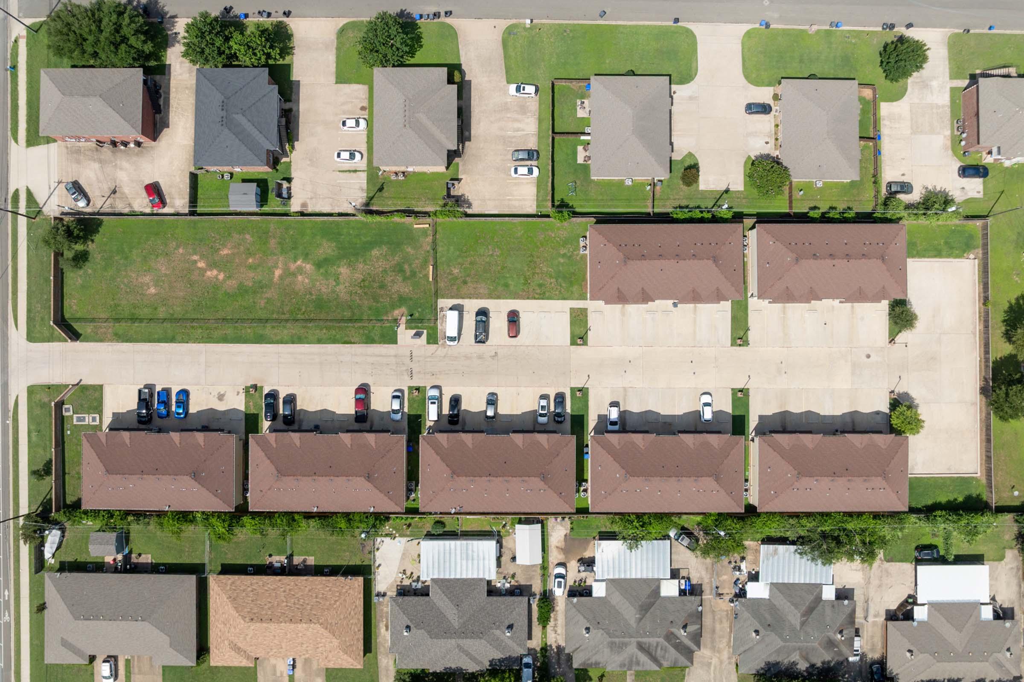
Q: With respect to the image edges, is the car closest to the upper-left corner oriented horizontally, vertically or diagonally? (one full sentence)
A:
In this picture, the car closest to the upper-left corner lies diagonally.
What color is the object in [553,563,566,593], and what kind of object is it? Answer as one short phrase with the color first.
white vehicle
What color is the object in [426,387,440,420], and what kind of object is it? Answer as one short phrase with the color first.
white vehicle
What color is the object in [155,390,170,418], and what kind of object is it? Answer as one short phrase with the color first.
blue vehicle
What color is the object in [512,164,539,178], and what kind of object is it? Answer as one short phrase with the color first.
white car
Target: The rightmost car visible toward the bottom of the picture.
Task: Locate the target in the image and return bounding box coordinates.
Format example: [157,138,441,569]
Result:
[913,545,940,559]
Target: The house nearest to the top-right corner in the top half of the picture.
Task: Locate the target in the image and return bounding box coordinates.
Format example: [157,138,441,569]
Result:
[951,70,1024,169]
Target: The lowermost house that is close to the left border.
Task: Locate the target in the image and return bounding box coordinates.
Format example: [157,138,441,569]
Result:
[44,570,201,666]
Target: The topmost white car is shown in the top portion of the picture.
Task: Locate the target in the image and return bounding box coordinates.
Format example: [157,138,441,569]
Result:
[510,82,537,97]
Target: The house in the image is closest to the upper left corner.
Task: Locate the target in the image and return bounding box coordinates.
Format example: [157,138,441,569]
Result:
[40,67,167,142]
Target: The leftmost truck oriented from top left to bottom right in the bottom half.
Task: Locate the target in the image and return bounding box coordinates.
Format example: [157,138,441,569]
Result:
[668,524,695,554]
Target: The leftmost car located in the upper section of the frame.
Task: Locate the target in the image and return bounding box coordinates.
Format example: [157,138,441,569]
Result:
[66,180,90,207]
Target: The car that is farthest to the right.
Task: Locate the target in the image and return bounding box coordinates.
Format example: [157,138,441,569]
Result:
[956,164,987,178]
